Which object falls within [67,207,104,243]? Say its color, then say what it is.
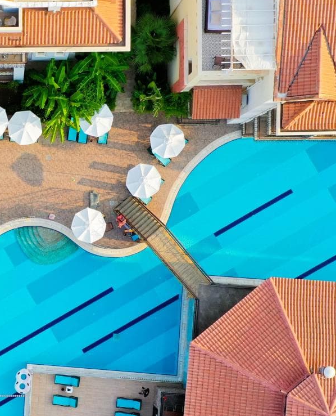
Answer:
white umbrella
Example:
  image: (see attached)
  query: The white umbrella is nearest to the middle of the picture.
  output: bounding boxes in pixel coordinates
[124,164,159,198]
